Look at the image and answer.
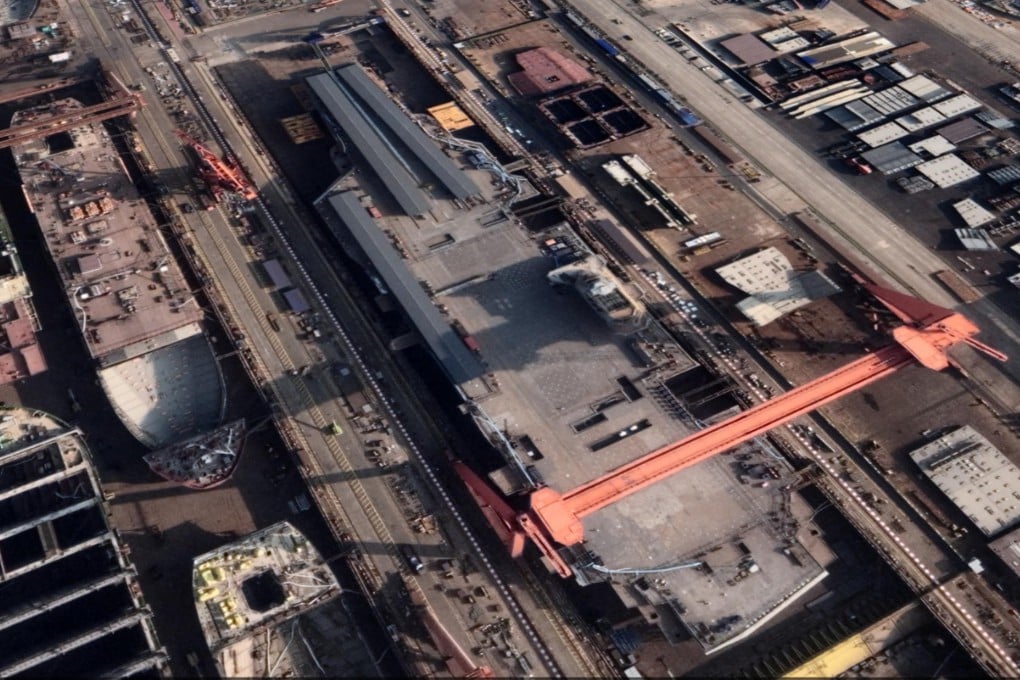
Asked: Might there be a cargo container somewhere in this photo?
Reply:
Yes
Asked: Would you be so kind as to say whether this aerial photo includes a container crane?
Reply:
Yes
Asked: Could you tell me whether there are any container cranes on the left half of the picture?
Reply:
Yes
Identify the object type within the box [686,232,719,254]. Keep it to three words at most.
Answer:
bus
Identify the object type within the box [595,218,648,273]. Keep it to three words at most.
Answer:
shed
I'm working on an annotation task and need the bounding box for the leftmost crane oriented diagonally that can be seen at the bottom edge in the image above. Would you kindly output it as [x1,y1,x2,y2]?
[405,577,495,680]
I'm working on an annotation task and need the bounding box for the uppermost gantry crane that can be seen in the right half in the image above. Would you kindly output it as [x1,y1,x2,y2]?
[440,259,1014,590]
